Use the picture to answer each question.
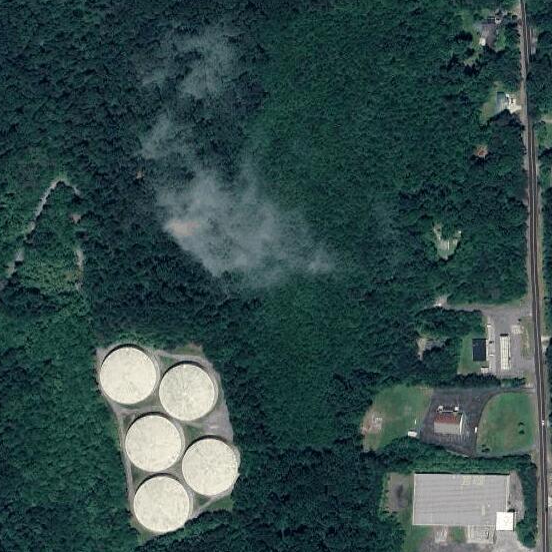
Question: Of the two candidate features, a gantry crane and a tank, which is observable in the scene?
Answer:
tank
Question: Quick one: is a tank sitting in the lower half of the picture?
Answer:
Yes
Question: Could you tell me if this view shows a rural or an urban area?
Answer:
rural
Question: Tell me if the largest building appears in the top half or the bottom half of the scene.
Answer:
bottom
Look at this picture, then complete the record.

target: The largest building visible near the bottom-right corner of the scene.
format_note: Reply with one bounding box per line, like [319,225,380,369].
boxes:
[413,474,510,525]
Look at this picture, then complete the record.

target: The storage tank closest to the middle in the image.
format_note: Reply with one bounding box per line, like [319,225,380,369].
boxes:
[160,362,220,421]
